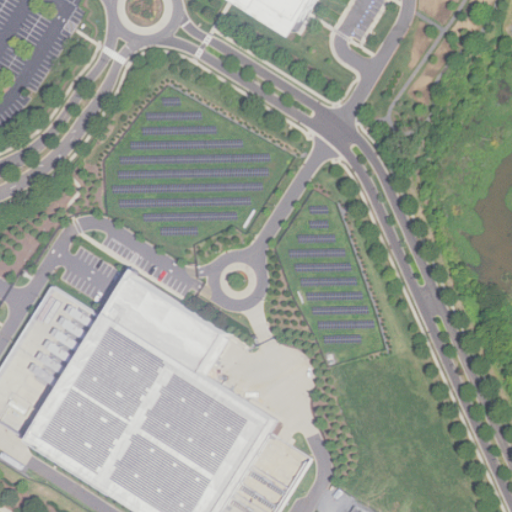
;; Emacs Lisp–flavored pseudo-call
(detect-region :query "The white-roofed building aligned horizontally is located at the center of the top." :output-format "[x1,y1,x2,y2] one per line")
[224,0,312,37]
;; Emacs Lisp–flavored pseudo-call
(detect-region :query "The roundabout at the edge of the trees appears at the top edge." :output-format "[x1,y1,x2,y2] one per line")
[117,0,173,36]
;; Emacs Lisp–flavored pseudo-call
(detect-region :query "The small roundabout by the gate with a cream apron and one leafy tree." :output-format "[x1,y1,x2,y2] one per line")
[219,262,256,299]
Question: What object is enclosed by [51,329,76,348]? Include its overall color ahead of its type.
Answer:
white vehicle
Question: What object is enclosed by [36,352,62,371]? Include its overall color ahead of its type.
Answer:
white vehicle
